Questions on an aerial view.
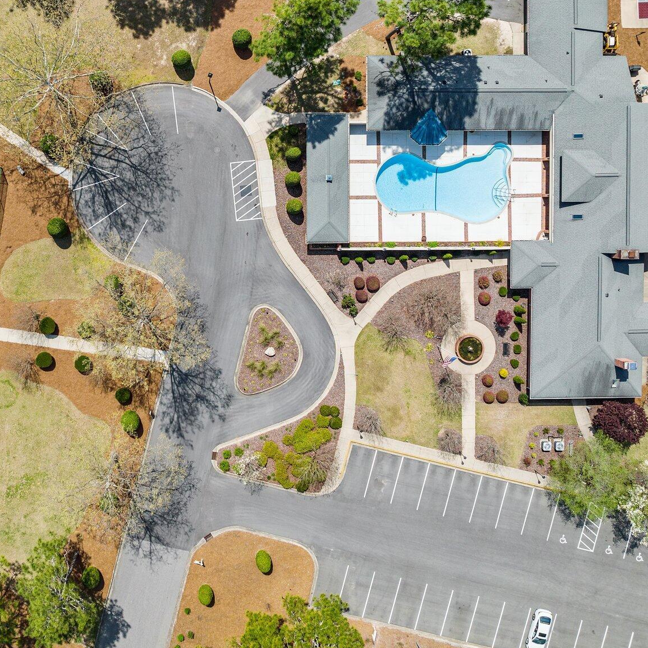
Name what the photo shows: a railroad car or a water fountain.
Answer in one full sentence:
Visible in the photo is a water fountain.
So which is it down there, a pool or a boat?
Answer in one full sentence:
Looking from above, you can make out a pool.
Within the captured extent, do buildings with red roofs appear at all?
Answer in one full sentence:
No, the picture doesn't show any building with a red roof.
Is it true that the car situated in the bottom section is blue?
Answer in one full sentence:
No, the car situated in the bottom section is white.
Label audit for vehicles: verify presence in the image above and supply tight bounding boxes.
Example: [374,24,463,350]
[601,20,620,55]
[526,608,550,648]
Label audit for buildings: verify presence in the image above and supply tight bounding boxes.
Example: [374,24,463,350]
[305,113,349,244]
[365,0,648,399]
